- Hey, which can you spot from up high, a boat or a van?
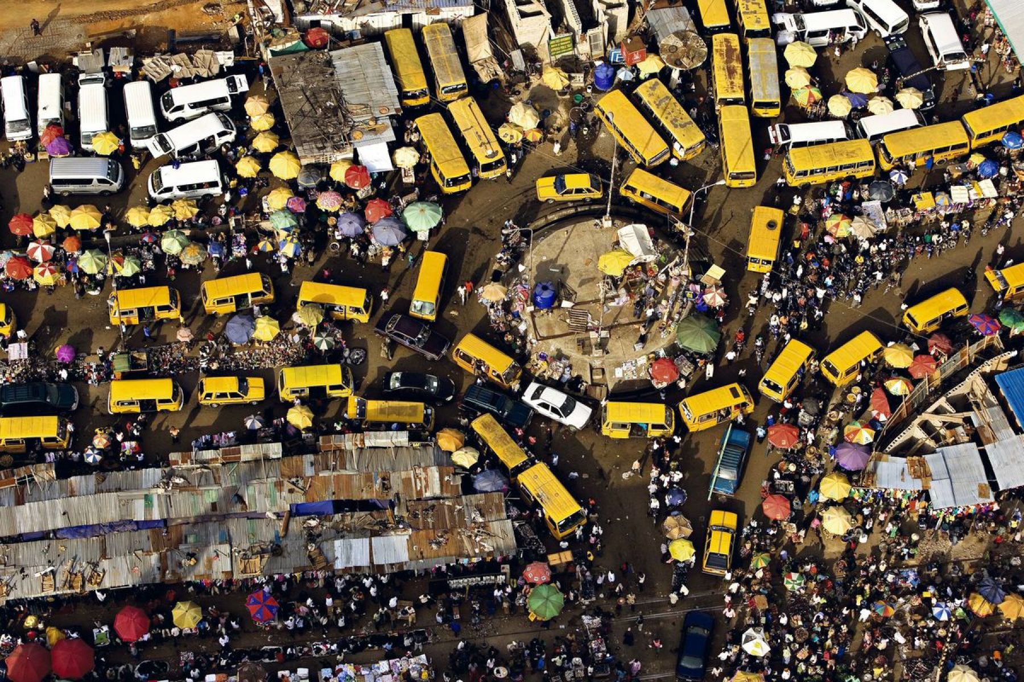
van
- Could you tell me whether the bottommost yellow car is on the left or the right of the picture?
right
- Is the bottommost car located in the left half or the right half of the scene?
right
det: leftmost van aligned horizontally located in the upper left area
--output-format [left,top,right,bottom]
[49,159,130,196]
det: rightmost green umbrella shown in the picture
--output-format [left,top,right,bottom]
[999,308,1024,334]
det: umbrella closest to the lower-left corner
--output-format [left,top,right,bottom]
[7,643,51,682]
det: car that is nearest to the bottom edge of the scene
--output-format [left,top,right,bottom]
[673,616,714,682]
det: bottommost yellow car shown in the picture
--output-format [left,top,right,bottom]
[701,505,739,576]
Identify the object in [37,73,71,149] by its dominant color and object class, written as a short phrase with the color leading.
white van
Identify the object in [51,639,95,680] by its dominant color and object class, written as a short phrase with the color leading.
red umbrella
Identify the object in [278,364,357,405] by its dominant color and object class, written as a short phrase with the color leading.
yellow vehicle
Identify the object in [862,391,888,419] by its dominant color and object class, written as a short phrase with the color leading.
red umbrella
